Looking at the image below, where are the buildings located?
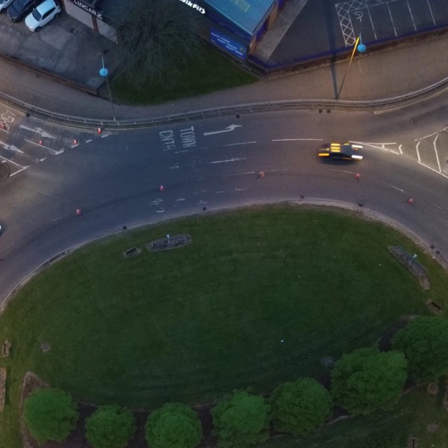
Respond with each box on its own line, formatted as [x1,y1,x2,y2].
[153,0,286,61]
[59,0,150,43]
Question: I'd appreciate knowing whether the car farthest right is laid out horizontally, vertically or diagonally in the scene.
horizontally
